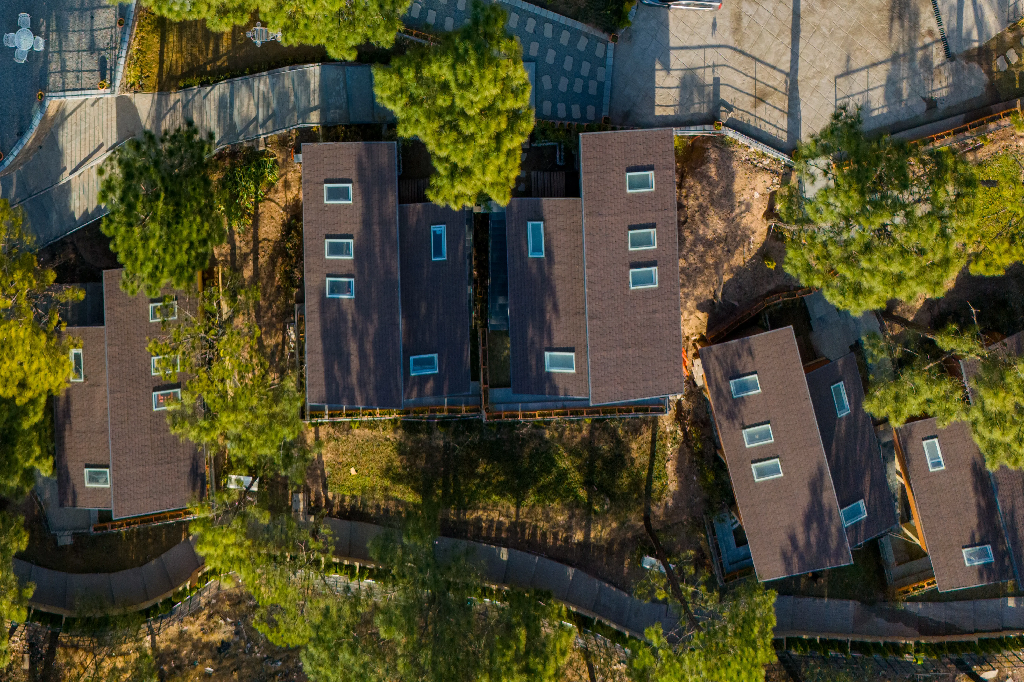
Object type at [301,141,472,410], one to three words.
house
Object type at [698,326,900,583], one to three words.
house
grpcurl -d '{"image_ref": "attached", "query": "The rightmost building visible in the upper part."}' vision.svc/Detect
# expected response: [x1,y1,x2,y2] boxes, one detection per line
[507,127,685,406]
